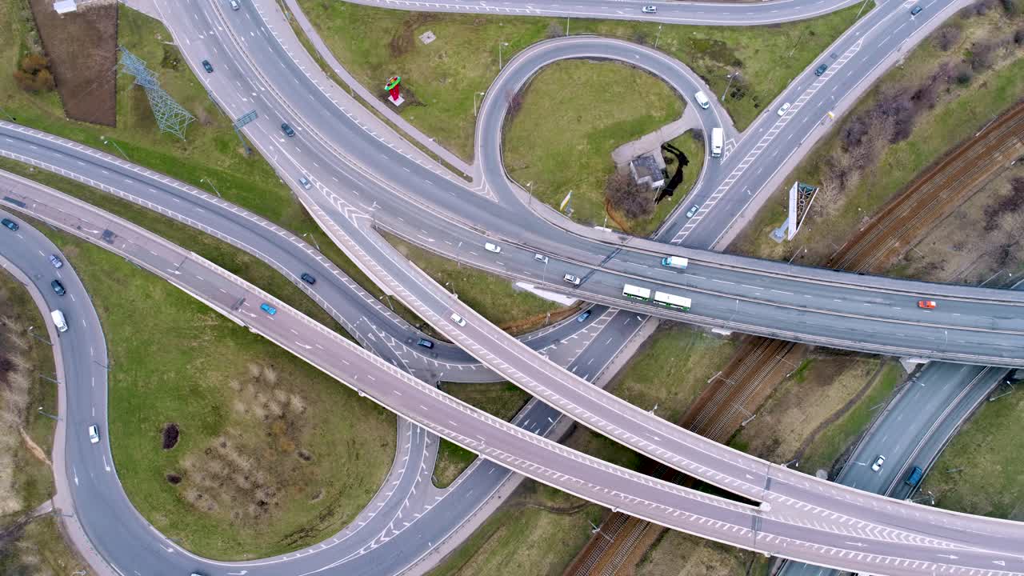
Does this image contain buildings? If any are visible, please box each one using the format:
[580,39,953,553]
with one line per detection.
[631,155,663,192]
[54,0,81,20]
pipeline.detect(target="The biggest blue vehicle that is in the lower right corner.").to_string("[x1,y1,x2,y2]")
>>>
[904,466,922,487]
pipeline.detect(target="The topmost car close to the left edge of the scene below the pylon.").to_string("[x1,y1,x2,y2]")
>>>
[1,218,18,230]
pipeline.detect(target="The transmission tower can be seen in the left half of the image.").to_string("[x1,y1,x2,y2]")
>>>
[0,47,198,201]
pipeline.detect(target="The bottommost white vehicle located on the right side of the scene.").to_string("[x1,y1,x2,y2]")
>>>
[870,454,885,472]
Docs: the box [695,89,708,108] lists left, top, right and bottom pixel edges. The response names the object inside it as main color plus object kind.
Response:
white vehicle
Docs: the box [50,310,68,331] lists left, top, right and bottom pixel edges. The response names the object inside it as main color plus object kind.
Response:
white vehicle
